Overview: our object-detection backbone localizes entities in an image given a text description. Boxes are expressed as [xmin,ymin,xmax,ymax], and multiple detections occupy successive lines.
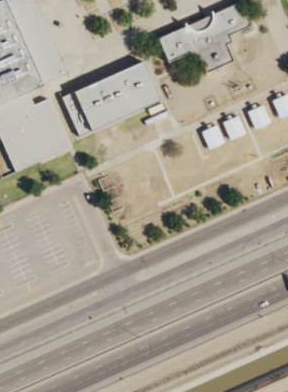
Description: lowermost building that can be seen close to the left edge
[0,90,70,172]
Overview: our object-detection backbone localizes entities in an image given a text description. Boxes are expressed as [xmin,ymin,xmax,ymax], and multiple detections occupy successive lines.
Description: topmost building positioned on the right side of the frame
[160,4,250,72]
